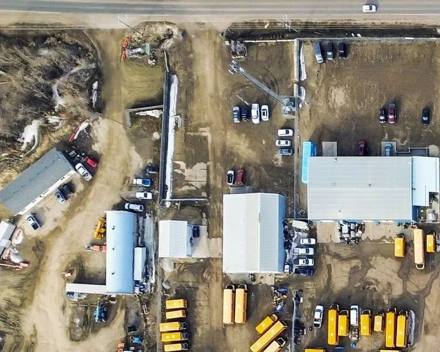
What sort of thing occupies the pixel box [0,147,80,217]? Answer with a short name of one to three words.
building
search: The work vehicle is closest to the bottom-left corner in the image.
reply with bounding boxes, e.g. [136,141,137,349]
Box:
[94,303,109,321]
